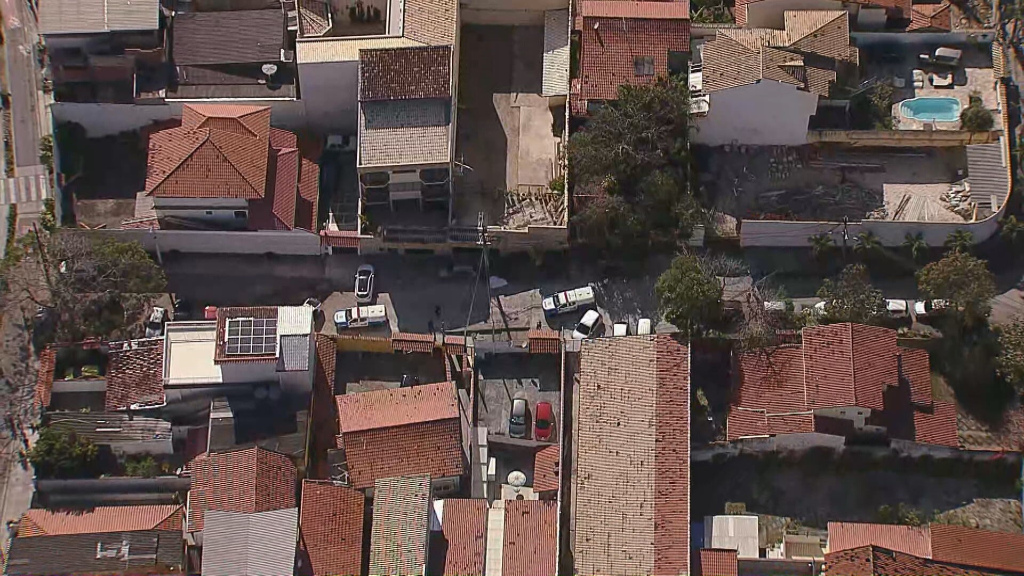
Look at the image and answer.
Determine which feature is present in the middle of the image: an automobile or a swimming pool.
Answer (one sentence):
Visible in the middle of the image is an automobile.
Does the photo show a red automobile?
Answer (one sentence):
Yes, looking at the shot, I can spot a red automobile.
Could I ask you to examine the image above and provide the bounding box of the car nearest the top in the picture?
[321,135,359,155]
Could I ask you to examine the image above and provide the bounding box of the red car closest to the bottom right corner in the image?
[534,405,554,442]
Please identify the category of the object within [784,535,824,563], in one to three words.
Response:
shed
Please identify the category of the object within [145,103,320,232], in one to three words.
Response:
house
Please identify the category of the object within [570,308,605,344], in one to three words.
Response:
car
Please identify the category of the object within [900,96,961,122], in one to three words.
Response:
swimming pool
